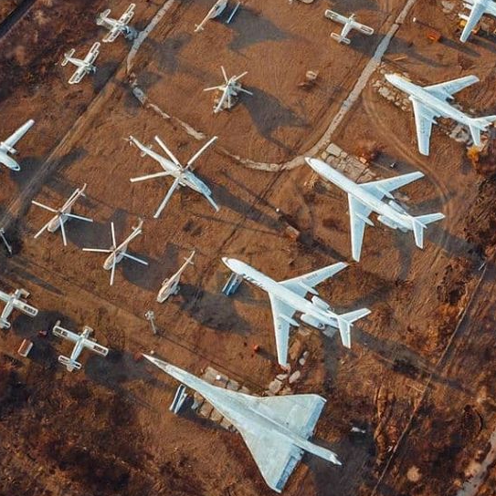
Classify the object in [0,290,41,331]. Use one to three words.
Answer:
airplane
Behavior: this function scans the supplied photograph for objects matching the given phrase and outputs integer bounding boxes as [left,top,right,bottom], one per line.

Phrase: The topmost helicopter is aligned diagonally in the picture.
[198,0,233,30]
